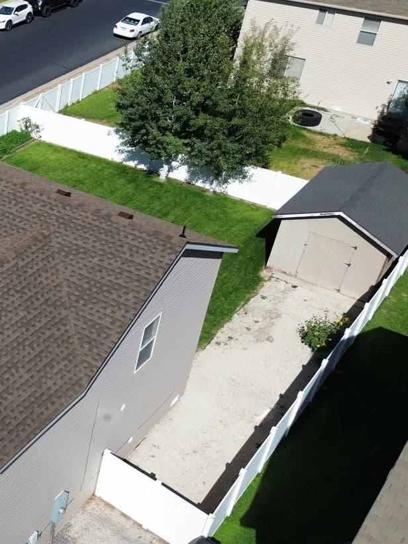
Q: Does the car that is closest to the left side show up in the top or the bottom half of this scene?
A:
top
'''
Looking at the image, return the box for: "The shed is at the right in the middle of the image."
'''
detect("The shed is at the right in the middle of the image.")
[267,167,408,302]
